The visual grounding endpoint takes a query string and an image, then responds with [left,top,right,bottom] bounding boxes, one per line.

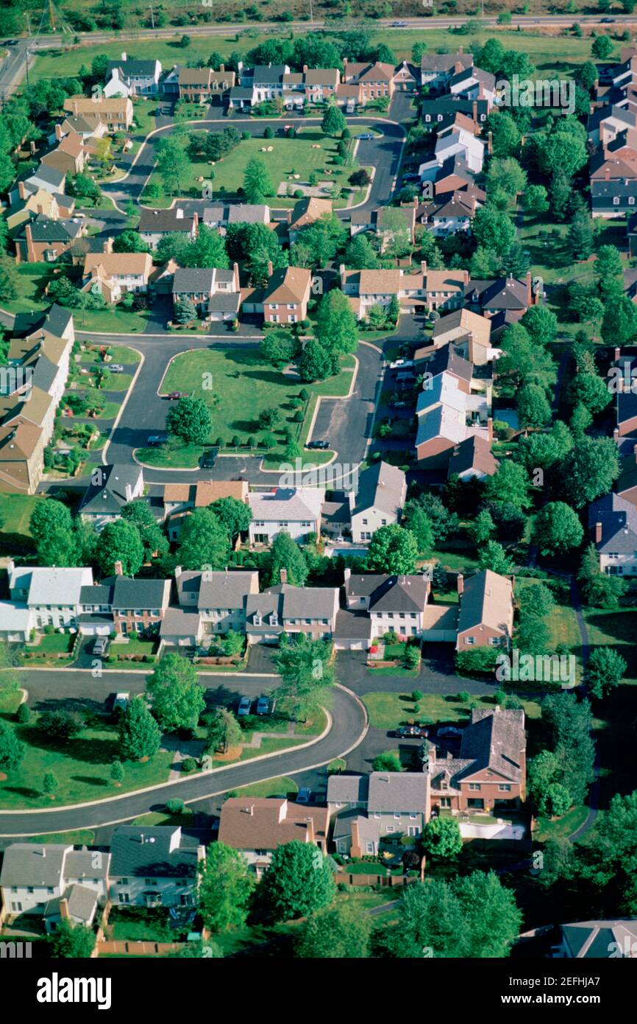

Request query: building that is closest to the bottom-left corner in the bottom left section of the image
[0,841,112,939]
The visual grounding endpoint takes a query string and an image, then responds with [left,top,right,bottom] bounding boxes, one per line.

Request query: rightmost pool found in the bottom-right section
[460,820,526,838]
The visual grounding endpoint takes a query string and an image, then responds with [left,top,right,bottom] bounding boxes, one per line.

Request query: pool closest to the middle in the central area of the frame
[338,545,373,558]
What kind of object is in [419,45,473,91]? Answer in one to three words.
house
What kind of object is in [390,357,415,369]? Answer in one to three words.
vehicle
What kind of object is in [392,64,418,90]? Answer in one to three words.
house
